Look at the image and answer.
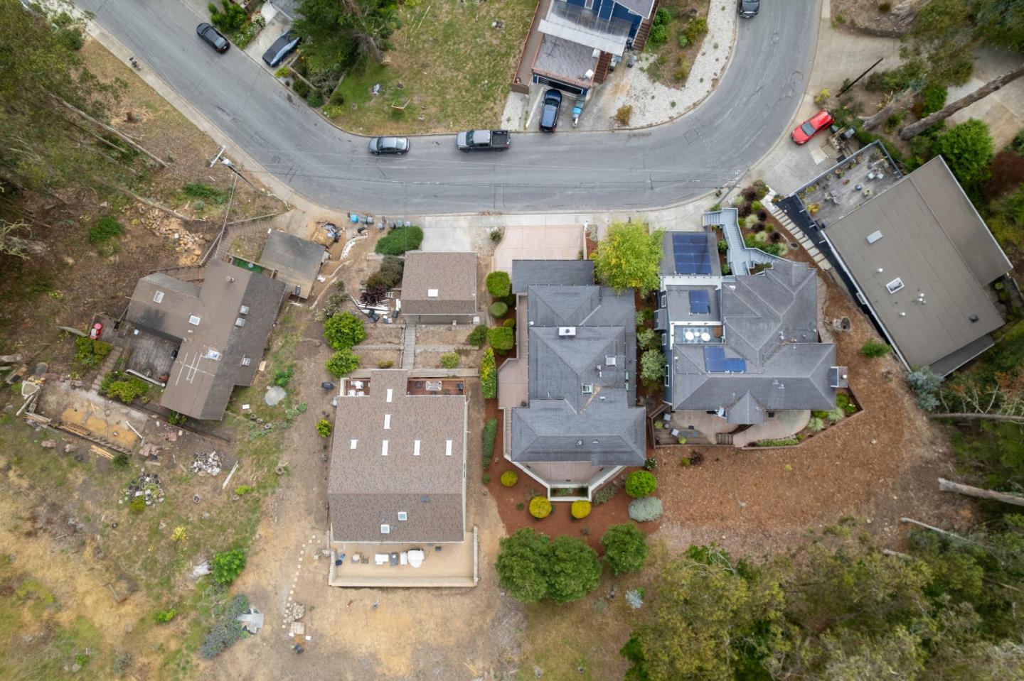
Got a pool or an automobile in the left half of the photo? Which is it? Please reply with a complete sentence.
There is an automobile in the left half of the photo.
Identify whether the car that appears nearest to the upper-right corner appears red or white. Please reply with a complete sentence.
In this view, the car that appears nearest to the upper-right corner is red.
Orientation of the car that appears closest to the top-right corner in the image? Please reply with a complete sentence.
In this picture, the car that appears closest to the top-right corner lies on a diagonal.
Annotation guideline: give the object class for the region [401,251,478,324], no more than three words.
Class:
building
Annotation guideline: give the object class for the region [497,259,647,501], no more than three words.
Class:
house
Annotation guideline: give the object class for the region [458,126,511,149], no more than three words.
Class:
truck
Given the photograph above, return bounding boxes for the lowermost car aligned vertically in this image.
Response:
[542,87,562,131]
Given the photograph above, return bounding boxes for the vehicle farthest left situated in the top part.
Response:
[192,18,230,54]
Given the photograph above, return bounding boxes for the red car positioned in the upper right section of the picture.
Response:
[794,108,836,142]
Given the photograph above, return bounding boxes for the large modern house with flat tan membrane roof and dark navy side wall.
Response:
[783,139,1015,378]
